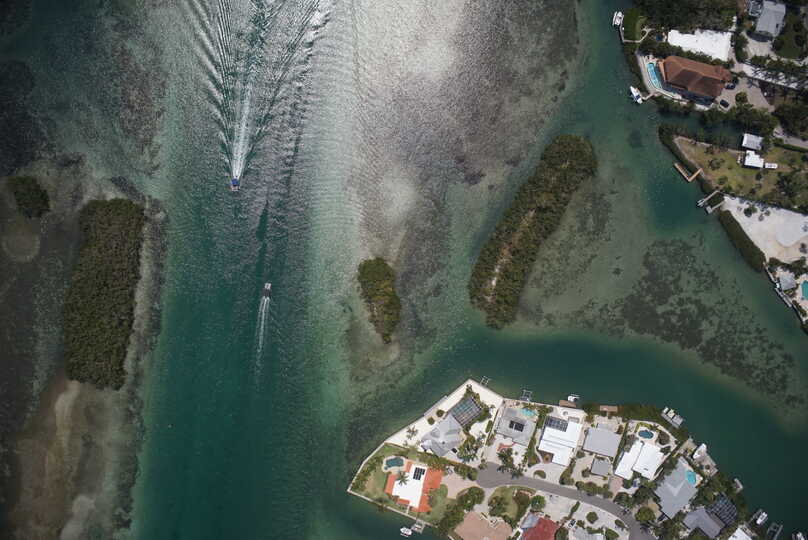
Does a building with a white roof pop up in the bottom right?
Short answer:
Yes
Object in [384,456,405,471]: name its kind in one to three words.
swimming pool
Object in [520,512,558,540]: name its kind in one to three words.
house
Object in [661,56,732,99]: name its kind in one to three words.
house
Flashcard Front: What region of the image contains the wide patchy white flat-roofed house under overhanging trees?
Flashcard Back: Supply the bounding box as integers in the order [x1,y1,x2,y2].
[666,30,731,61]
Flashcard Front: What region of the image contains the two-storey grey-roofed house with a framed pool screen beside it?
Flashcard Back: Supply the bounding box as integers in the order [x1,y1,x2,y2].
[752,1,785,39]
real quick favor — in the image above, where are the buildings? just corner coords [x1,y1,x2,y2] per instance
[615,440,664,480]
[456,512,511,540]
[661,56,732,99]
[591,457,611,476]
[724,527,751,540]
[520,512,558,540]
[539,421,582,467]
[655,457,697,519]
[421,415,462,456]
[385,460,442,512]
[583,423,620,457]
[666,30,731,61]
[571,527,604,540]
[742,133,763,150]
[497,410,540,451]
[752,1,785,39]
[682,506,725,538]
[743,150,764,167]
[778,275,796,291]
